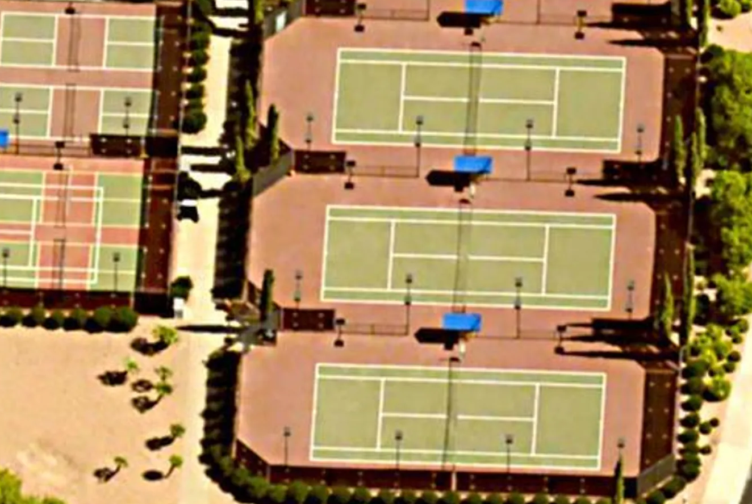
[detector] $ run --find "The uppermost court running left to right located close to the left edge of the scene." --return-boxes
[0,12,165,72]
